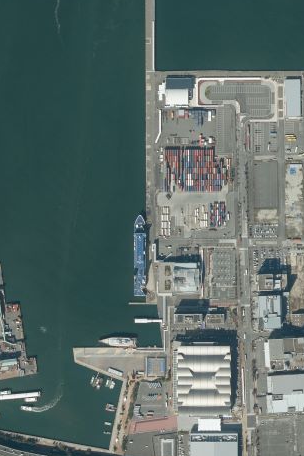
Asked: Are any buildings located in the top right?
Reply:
Yes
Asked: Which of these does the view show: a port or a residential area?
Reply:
port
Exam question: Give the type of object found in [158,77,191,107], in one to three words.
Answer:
building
